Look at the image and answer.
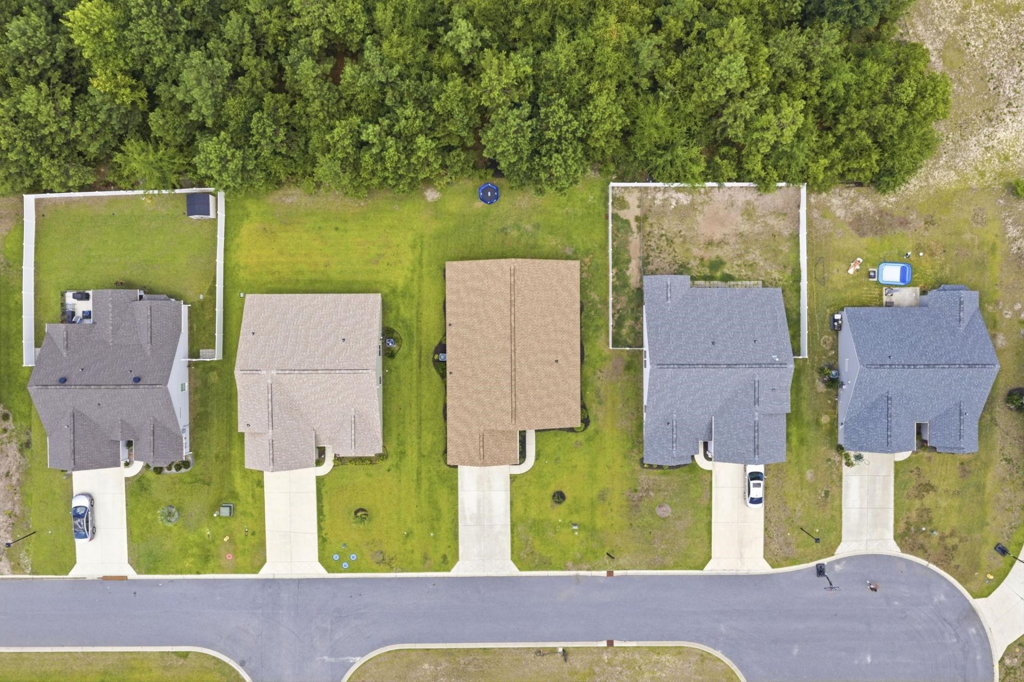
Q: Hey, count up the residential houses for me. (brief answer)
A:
5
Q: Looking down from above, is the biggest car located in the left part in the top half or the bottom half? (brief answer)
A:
bottom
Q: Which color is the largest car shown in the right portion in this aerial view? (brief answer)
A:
white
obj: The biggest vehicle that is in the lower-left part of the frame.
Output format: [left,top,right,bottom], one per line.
[68,492,96,542]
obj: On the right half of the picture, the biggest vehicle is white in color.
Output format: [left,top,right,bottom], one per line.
[743,465,767,508]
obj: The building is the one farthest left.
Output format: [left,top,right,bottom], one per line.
[28,290,199,472]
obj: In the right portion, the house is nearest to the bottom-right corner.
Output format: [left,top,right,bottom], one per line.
[833,285,1000,455]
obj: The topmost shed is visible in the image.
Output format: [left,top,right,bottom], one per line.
[186,192,217,217]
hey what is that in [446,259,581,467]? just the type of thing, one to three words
house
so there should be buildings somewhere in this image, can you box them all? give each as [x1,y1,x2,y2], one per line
[28,290,199,472]
[235,295,384,473]
[446,259,581,467]
[641,275,794,467]
[186,192,217,217]
[833,285,1000,455]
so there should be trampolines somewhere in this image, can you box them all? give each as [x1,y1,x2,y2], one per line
[479,181,498,204]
